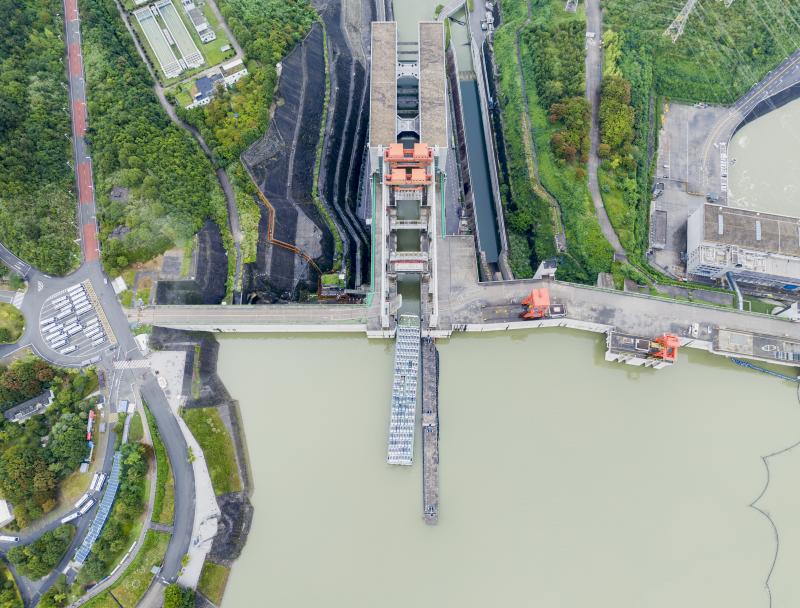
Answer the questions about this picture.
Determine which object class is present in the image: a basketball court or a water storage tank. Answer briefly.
water storage tank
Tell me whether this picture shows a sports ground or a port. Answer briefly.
port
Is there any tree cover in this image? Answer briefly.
Yes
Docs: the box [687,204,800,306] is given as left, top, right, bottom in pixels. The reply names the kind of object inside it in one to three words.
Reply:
building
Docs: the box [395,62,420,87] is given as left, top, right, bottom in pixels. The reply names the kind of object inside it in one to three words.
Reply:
bridge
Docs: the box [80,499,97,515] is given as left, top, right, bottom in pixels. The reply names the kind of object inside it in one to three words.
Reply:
vehicle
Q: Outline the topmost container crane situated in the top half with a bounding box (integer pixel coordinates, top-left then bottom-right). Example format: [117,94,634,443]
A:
[380,140,437,173]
